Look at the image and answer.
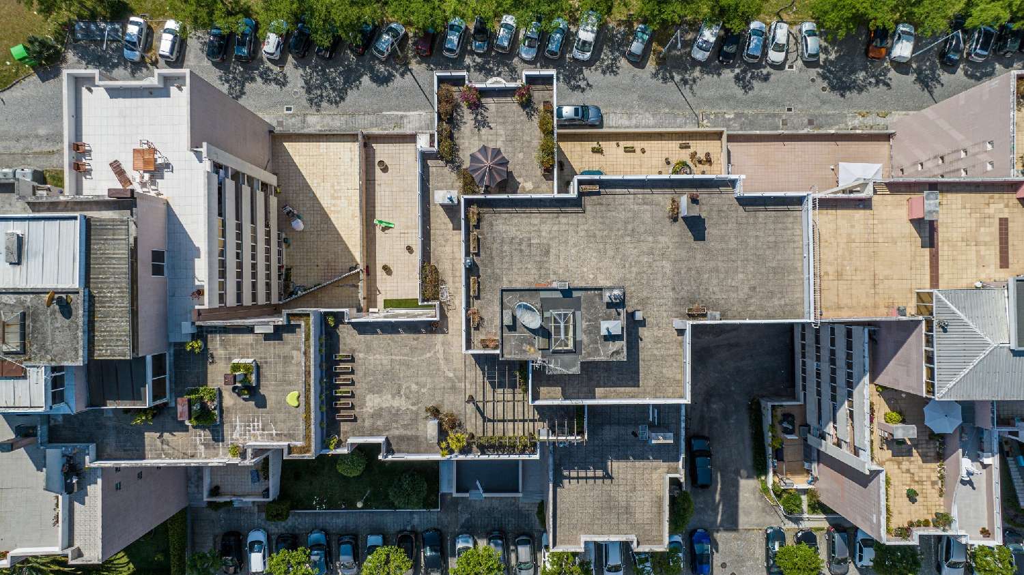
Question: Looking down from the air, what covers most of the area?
buildings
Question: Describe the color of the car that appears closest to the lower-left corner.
black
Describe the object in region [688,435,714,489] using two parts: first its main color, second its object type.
black car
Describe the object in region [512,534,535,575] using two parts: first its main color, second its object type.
gray car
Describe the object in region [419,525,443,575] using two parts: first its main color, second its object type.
black car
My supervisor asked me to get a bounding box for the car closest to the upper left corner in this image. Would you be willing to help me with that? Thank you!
[121,16,151,64]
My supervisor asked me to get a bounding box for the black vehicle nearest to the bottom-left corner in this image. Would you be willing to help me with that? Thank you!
[219,528,244,575]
